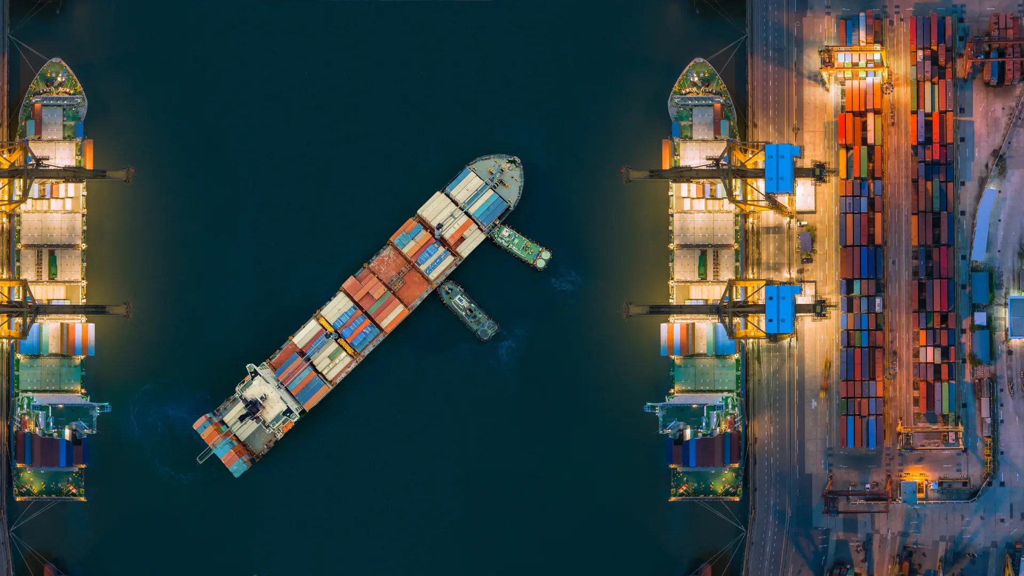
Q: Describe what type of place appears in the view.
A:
port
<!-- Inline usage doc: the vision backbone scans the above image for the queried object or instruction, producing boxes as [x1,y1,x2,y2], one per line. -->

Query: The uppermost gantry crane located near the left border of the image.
[0,139,134,223]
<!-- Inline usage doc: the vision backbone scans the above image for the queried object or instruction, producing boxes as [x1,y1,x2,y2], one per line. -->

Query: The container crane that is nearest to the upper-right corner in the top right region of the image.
[964,39,1024,86]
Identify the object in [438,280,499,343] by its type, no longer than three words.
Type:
boat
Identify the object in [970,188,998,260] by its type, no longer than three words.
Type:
shed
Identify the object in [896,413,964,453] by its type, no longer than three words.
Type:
container crane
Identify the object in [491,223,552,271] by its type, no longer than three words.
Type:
boat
